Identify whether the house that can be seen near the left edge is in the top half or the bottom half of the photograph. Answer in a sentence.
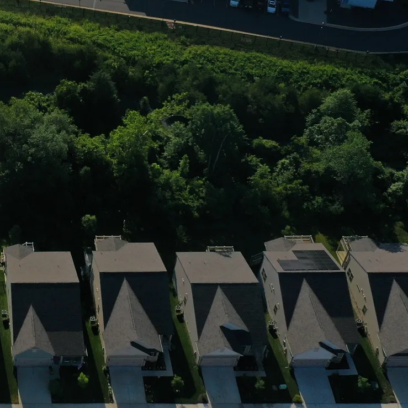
The house that can be seen near the left edge sits in the bottom half of the picture.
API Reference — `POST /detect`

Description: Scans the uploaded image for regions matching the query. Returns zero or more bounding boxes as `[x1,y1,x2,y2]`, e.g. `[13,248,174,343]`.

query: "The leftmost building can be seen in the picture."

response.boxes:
[6,235,83,368]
